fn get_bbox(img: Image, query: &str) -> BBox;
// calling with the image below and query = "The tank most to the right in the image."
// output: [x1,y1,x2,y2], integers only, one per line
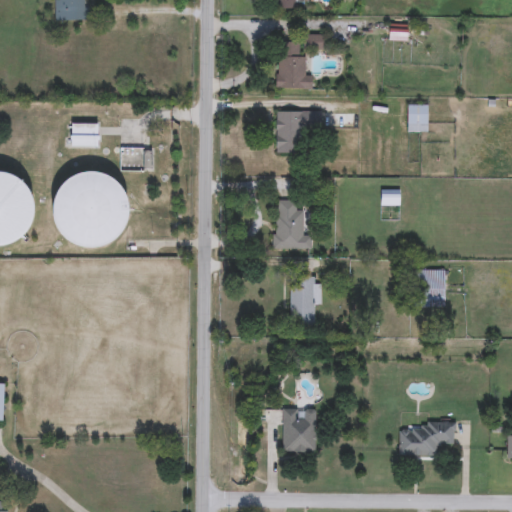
[53,171,130,247]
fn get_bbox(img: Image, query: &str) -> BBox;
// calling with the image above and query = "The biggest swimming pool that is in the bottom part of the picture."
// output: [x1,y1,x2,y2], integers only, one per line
[296,373,322,407]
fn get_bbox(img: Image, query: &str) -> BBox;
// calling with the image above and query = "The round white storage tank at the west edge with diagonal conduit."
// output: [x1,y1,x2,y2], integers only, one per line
[0,171,36,247]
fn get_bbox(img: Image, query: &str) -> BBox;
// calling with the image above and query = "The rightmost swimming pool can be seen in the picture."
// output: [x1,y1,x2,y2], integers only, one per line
[406,382,435,400]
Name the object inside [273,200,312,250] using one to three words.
house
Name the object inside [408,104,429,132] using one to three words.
barn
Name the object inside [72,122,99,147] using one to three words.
building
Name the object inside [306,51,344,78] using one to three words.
swimming pool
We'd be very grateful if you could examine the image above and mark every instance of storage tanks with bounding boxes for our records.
[53,171,130,247]
[0,171,36,247]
